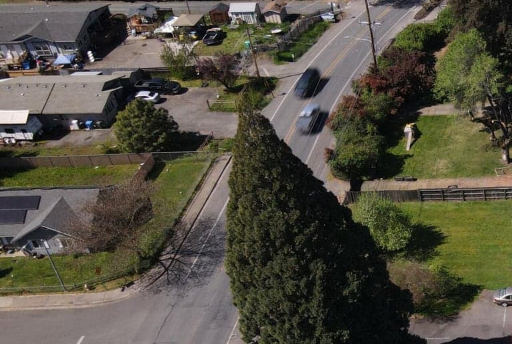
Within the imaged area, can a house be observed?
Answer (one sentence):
Yes, you can see a house in this photo.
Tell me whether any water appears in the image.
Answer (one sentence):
No, water can't be seen anywhere here.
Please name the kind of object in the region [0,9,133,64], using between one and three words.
house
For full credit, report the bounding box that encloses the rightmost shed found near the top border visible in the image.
[258,0,289,24]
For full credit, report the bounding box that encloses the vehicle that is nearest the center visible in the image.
[297,103,324,126]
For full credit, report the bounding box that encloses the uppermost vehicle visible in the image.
[196,28,226,46]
